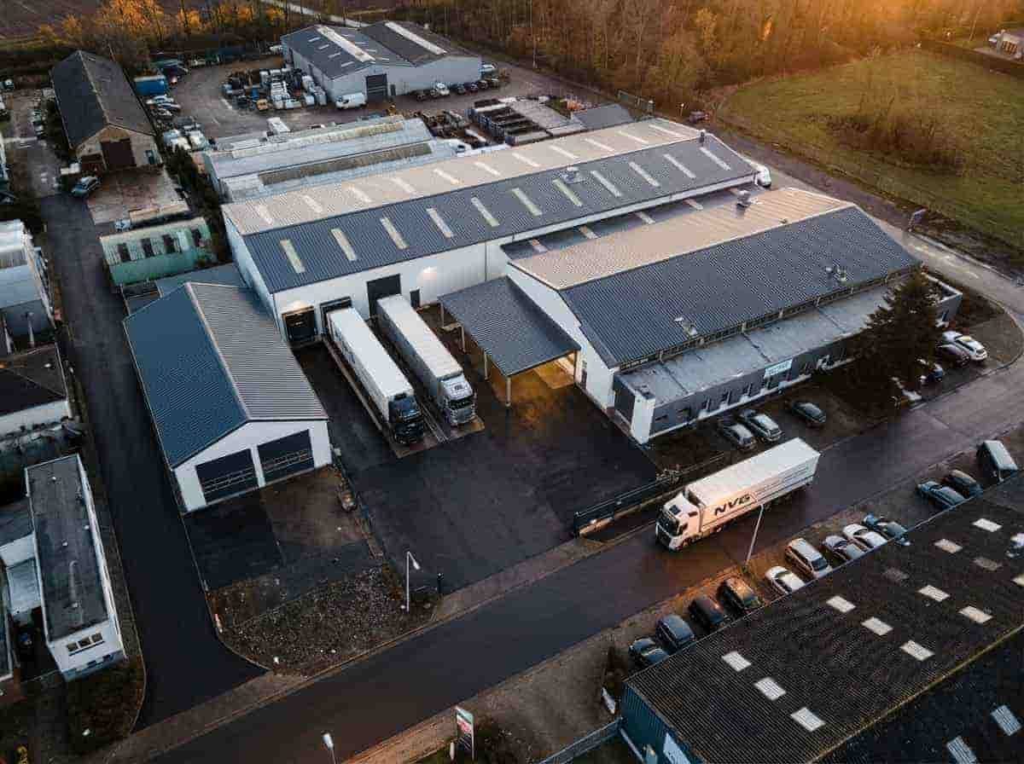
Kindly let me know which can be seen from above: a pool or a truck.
truck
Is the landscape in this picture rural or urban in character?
urban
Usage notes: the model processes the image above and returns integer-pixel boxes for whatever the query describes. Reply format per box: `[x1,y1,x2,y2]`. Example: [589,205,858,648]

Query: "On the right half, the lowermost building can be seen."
[615,482,1024,764]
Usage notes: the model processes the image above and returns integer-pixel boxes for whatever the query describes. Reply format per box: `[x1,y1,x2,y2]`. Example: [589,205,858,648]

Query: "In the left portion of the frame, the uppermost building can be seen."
[268,3,477,103]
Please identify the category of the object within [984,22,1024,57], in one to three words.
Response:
house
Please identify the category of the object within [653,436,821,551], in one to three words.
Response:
truck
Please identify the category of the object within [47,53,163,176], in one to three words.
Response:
barn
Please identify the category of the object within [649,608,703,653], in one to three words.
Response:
car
